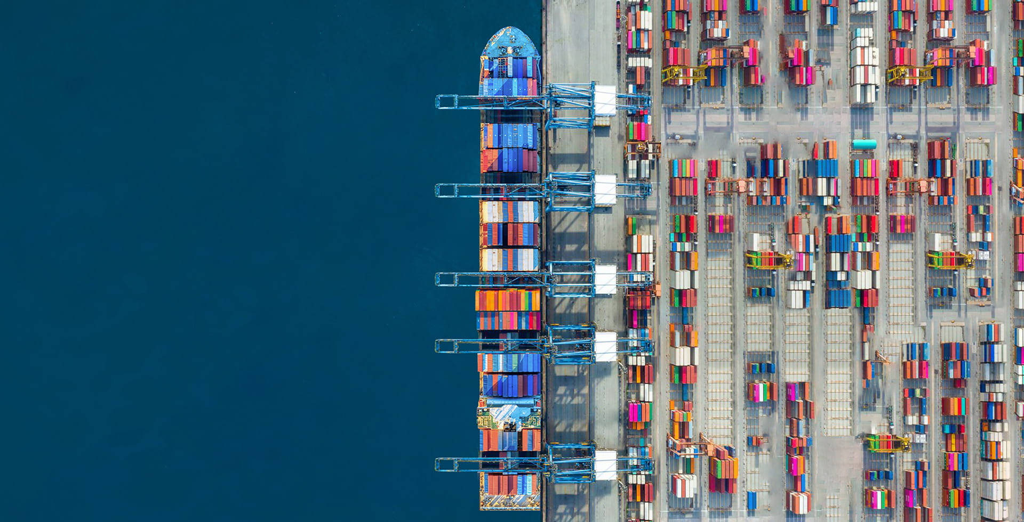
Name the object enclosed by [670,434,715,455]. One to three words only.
container crane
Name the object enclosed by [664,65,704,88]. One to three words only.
container crane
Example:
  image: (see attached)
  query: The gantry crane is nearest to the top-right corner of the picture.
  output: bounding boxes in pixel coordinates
[923,45,977,68]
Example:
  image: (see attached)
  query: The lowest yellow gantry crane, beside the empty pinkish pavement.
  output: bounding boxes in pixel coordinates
[859,431,912,452]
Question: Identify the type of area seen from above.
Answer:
port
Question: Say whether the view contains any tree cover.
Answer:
No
